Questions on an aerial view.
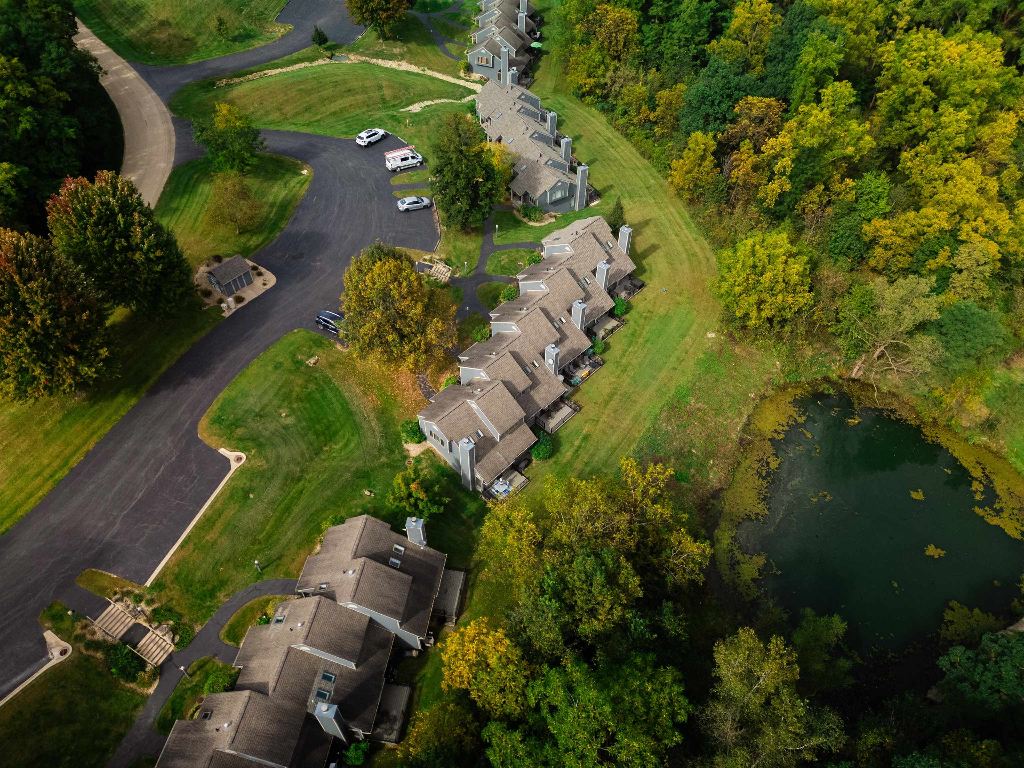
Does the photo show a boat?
No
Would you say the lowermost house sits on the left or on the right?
left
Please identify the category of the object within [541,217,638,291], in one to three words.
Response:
house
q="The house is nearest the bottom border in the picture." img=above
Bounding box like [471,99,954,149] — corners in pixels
[156,692,334,768]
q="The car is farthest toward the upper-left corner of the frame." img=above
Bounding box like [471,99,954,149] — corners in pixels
[356,128,388,147]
